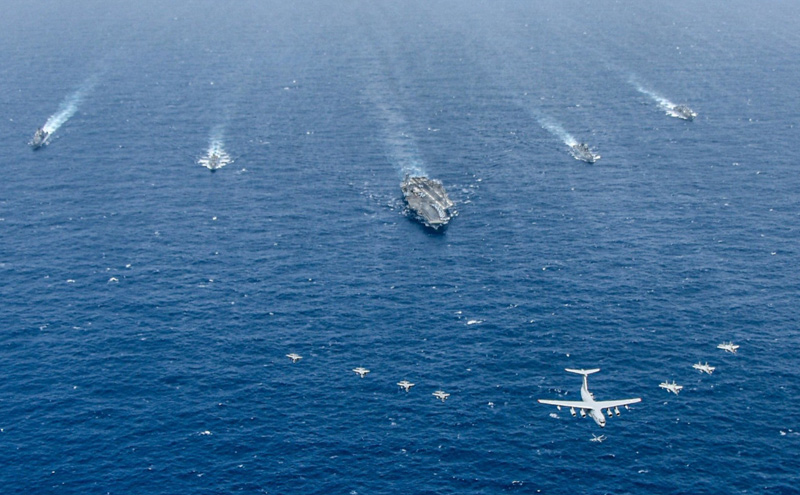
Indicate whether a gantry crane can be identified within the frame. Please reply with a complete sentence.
No, I can't see a single gantry crane in this photo.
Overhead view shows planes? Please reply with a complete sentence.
Yes, there's a plane here.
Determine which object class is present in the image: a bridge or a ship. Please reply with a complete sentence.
This aerial view contains a ship.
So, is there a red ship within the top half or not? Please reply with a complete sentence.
No, looking within the top half, there is no red ship.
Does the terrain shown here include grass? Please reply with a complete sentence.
No, no grass is visible.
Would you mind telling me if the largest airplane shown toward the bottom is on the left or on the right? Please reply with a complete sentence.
The largest airplane shown toward the bottom sits on the right side.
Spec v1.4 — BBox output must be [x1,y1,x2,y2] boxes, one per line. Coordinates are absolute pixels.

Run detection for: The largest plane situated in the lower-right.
[538,369,642,429]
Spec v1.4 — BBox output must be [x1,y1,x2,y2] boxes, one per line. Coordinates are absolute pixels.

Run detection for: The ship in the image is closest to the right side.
[670,105,693,123]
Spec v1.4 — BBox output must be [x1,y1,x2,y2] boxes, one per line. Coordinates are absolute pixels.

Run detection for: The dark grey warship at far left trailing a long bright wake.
[34,130,50,151]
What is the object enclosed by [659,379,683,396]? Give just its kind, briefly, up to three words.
airplane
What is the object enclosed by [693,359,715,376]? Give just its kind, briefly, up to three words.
airplane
